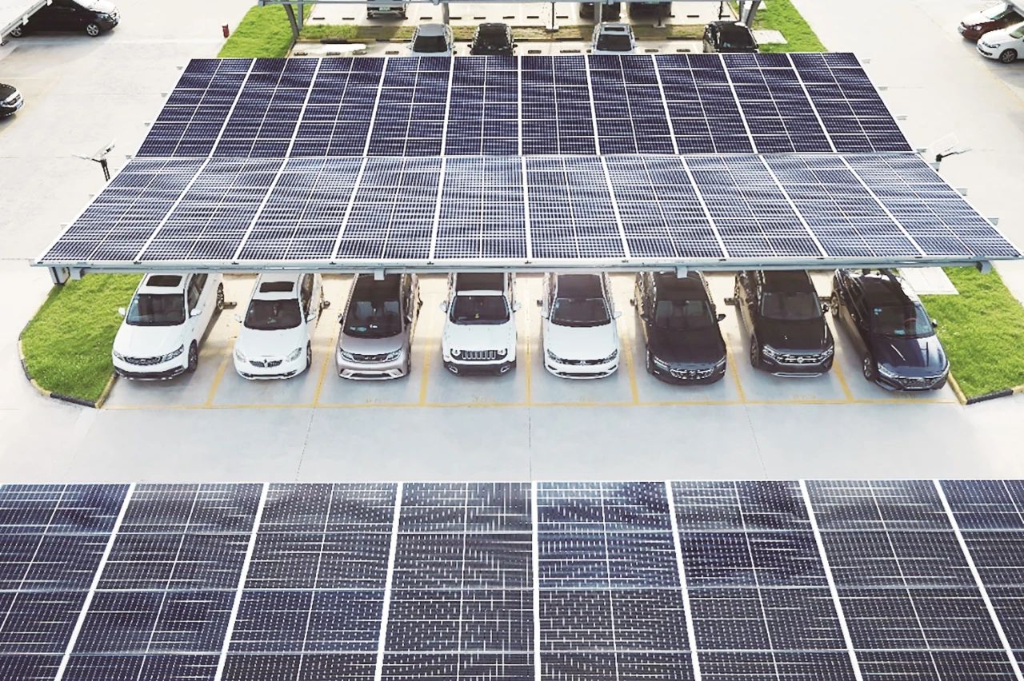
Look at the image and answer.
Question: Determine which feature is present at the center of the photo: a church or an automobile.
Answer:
automobile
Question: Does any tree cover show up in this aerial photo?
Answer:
No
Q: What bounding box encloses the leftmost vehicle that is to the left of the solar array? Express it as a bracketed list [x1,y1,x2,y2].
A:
[0,75,28,113]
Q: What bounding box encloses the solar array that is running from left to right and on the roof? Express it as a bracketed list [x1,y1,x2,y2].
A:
[172,54,870,87]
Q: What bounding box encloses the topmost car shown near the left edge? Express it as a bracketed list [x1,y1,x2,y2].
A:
[22,0,124,34]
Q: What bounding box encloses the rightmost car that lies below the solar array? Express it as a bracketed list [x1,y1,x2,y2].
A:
[817,270,944,391]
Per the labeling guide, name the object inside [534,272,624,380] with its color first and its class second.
white car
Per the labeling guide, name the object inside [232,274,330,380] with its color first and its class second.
white car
